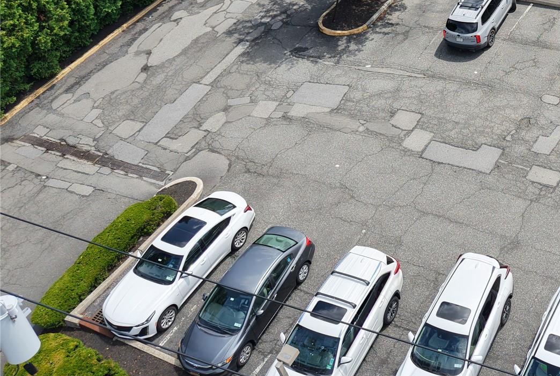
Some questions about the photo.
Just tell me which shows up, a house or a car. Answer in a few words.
car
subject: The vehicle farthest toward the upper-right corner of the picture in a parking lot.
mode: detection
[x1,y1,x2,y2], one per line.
[440,0,518,55]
